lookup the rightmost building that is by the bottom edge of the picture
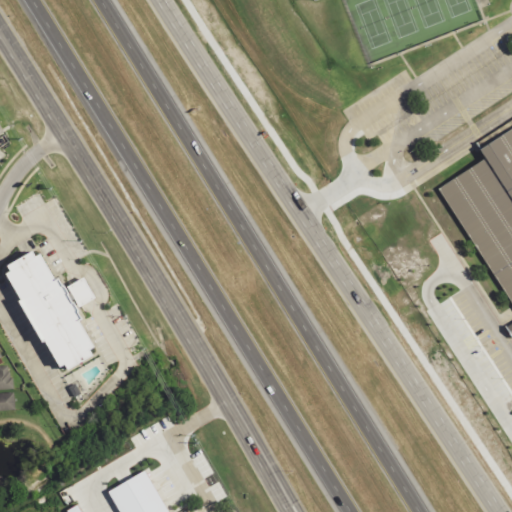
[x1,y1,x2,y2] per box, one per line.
[109,470,171,512]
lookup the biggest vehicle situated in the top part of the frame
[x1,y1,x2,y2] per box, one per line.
[292,192,306,210]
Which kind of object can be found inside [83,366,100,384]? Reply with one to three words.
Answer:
swimming pool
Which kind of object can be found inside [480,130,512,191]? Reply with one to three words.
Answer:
building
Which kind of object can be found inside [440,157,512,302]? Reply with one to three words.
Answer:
building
